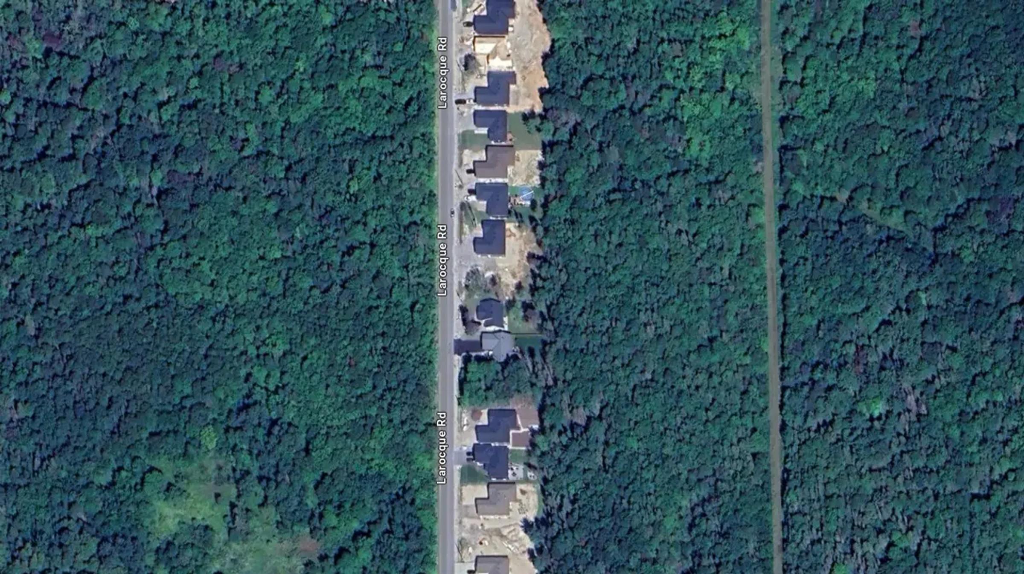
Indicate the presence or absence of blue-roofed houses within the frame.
Yes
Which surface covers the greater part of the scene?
trees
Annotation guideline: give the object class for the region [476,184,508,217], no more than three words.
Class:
house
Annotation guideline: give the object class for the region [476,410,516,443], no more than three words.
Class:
house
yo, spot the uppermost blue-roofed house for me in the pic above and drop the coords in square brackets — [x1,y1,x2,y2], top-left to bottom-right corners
[474,0,515,35]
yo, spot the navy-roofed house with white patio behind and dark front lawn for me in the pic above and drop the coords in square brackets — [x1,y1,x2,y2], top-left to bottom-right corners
[474,445,508,480]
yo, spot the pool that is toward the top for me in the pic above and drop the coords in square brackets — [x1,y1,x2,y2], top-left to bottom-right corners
[519,188,534,203]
